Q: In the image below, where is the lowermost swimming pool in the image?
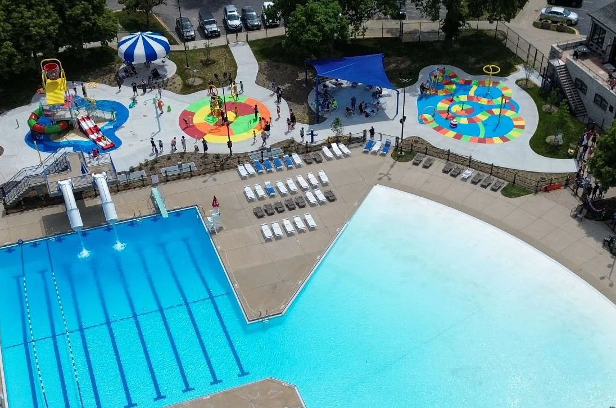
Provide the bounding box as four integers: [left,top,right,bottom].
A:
[0,185,616,408]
